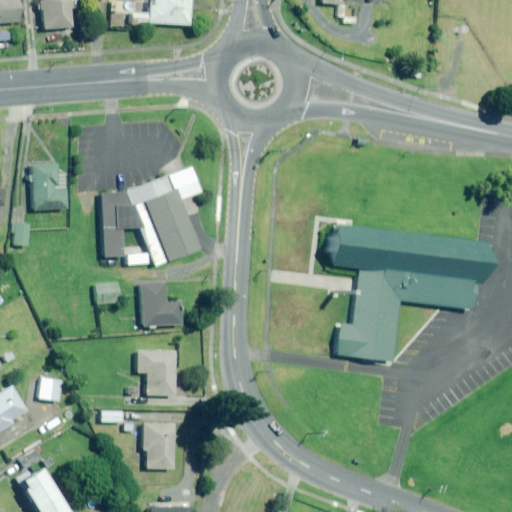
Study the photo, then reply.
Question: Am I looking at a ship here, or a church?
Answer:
church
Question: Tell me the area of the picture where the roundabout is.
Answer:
top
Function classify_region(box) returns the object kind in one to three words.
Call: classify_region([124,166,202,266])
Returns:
building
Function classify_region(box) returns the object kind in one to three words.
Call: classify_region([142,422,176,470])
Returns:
house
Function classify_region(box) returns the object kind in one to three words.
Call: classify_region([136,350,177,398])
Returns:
house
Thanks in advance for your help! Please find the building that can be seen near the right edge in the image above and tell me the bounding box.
[328,226,501,362]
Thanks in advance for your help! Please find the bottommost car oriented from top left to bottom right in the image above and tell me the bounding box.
[269,420,284,435]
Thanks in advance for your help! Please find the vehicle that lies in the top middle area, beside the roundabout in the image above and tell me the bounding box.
[266,24,279,40]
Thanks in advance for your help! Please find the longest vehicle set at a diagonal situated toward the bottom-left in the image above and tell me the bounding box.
[38,418,63,436]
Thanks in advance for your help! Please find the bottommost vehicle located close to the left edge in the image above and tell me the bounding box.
[4,464,20,476]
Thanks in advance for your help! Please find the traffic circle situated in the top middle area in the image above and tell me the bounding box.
[206,34,306,132]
